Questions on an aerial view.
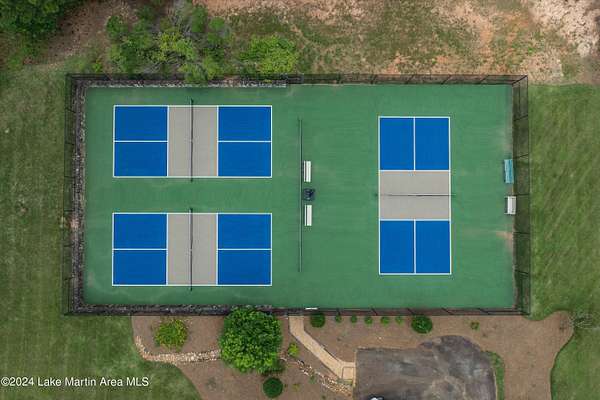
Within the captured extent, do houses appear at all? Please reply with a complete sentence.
No, no house is visible in the view.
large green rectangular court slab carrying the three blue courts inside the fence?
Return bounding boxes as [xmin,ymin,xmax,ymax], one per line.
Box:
[84,84,513,307]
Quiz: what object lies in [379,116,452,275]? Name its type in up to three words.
sports court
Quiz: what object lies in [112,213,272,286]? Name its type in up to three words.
sports court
